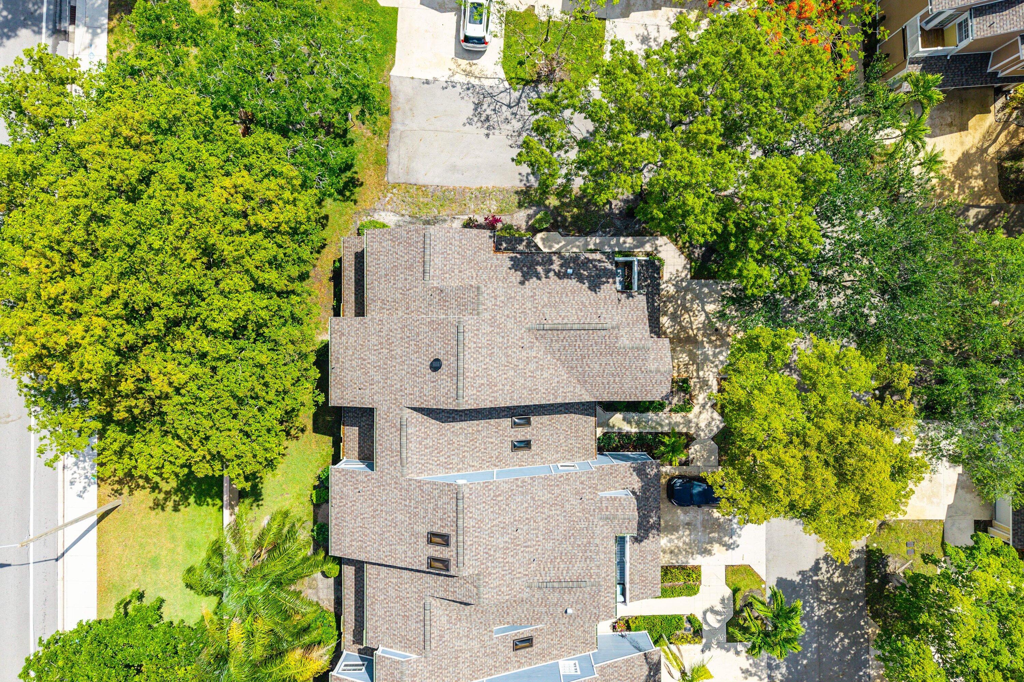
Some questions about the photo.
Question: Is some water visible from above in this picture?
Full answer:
No, the scene doesn't show any water.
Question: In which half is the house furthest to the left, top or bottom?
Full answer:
The bottom half of the photo is where the house furthest to the left is.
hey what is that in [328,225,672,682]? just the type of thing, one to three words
house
